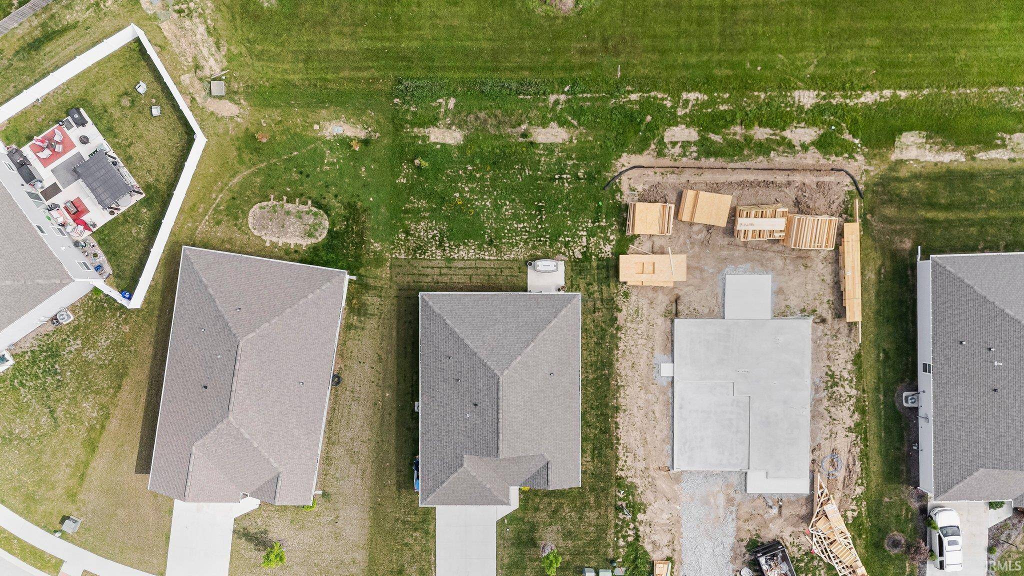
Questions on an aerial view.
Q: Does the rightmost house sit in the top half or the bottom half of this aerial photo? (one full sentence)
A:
You can find the rightmost house in the bottom half.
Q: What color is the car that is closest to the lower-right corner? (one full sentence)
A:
The color of the car that is closest to the lower-right corner is white.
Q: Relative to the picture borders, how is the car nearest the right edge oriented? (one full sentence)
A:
The car nearest the right edge runs from top to bottom in the image.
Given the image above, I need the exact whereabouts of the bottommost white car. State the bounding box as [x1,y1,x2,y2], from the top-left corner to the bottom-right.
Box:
[929,506,963,573]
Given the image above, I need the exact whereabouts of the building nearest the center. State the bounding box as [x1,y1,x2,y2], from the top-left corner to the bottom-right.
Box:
[418,292,582,507]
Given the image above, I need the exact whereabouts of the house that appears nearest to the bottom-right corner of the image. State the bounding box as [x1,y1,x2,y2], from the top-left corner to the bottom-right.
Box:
[917,247,1024,508]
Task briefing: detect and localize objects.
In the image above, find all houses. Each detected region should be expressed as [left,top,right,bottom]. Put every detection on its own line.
[917,247,1024,508]
[0,152,102,356]
[418,292,582,507]
[148,246,357,505]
